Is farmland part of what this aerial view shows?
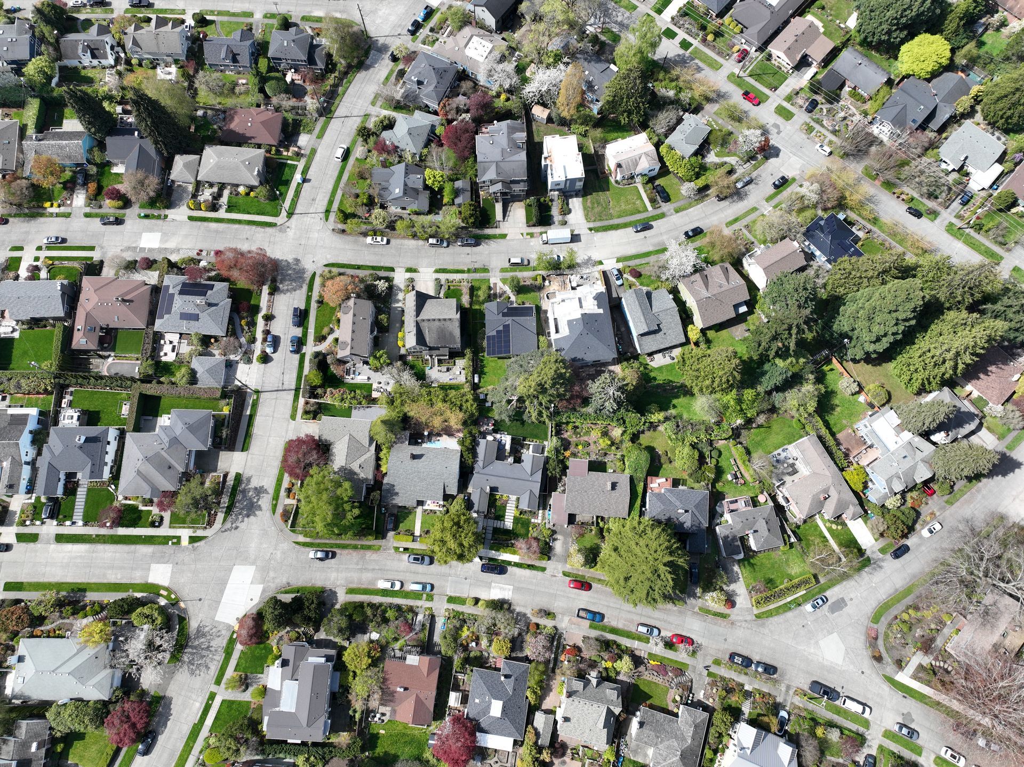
No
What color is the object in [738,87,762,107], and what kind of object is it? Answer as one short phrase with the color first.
red vehicle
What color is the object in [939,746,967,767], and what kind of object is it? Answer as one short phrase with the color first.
white car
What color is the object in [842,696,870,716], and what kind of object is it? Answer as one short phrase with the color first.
white car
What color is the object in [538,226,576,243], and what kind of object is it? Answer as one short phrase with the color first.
white vehicle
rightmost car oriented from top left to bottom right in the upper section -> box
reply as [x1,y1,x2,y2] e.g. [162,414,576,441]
[902,204,926,221]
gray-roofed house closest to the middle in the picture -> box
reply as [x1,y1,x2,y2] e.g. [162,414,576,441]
[485,302,537,358]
